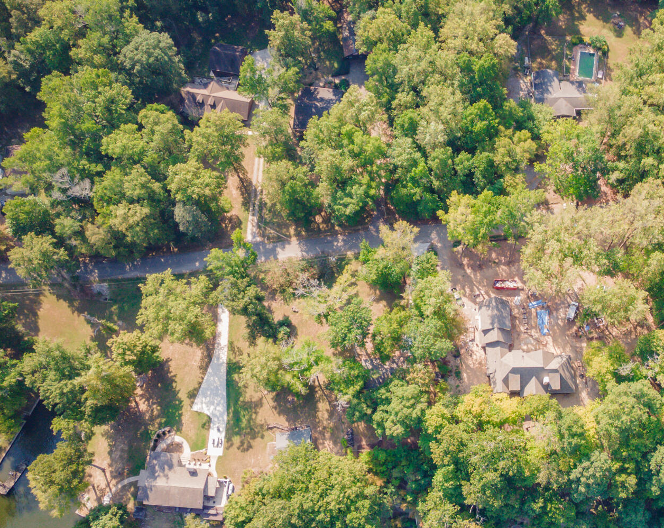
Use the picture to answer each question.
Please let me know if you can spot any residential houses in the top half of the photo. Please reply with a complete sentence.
Yes, a residential house shows up in the top half of the photo.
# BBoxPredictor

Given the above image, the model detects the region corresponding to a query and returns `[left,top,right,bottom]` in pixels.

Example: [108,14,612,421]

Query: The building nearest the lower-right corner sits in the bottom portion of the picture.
[478,297,575,397]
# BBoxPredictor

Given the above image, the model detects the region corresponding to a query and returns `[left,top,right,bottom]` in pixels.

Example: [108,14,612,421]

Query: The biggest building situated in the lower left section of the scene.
[136,452,218,508]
